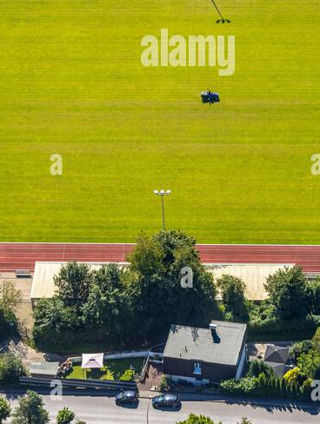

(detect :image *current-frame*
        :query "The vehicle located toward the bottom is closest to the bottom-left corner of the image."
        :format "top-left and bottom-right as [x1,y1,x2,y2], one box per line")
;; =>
[113,389,140,403]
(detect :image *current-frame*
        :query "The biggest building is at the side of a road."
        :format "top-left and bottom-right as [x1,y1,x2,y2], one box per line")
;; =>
[159,324,253,394]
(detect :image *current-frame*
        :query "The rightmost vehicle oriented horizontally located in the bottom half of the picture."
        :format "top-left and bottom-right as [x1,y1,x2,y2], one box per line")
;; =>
[151,390,181,405]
